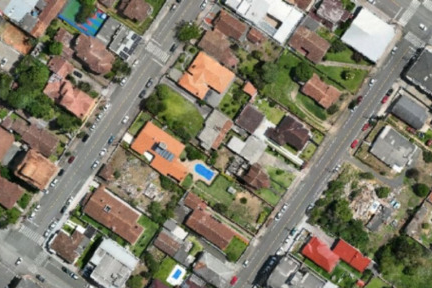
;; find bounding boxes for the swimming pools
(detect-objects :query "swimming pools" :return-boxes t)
[171,268,183,280]
[194,163,214,181]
